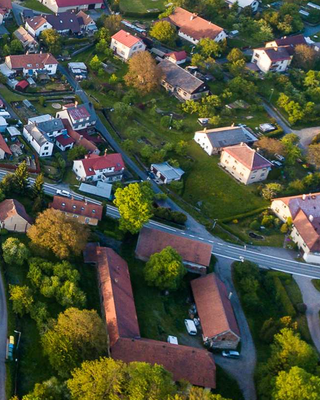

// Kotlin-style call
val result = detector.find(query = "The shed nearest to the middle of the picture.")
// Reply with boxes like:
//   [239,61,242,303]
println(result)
[151,161,189,185]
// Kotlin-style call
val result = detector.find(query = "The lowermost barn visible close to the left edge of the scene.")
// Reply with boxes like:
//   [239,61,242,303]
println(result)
[0,202,29,227]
